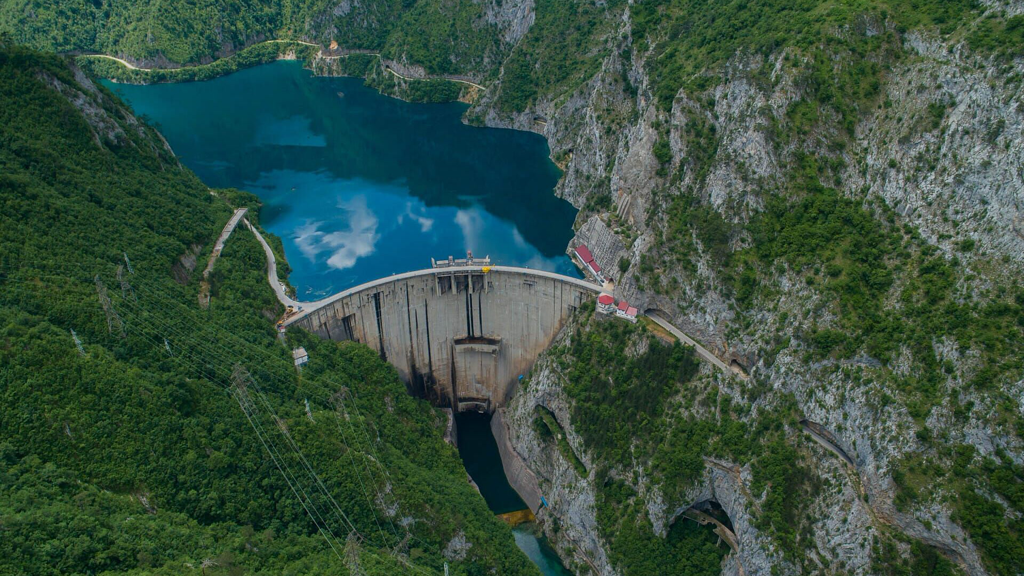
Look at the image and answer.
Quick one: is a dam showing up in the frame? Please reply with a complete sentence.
Yes, I can see a dam in this picture.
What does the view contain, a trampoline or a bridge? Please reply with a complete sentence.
The image shows a bridge.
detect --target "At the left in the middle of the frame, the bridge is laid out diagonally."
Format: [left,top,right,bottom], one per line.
[211,207,254,256]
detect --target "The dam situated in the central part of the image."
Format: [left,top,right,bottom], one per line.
[281,264,612,415]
